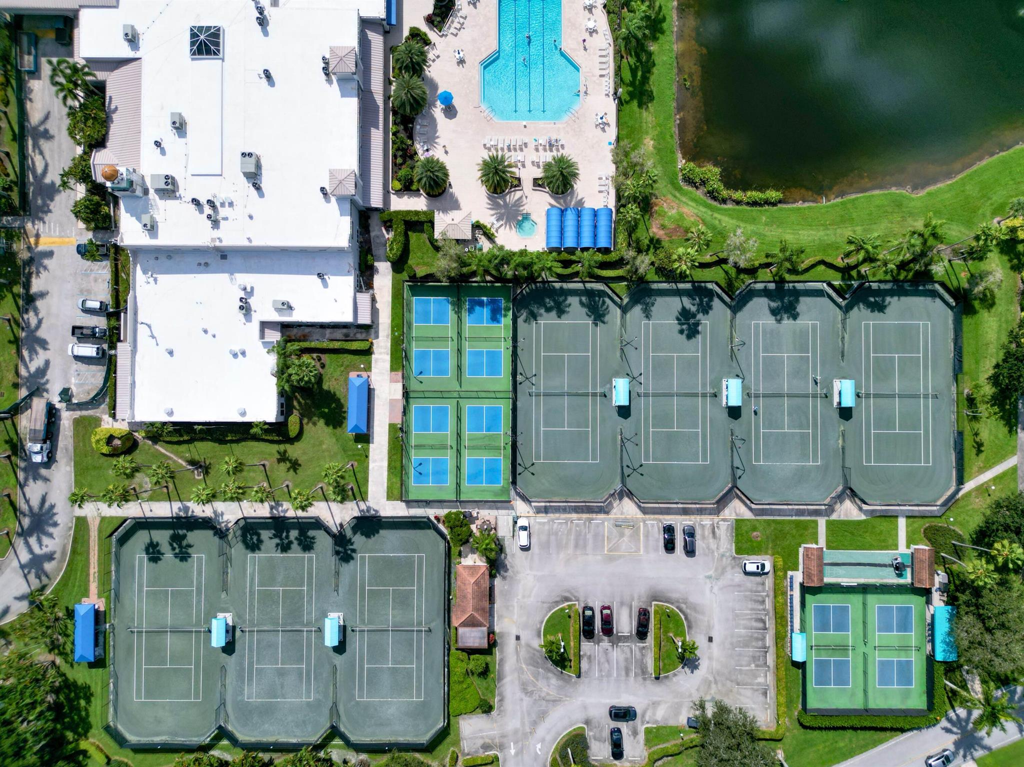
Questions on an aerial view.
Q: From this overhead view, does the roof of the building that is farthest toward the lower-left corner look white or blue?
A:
blue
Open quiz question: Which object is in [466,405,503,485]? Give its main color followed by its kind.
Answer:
blue sports court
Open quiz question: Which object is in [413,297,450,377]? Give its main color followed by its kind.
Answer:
blue sports court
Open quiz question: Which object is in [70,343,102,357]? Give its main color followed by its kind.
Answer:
white vehicle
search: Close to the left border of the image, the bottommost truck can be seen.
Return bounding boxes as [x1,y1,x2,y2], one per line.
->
[24,393,55,461]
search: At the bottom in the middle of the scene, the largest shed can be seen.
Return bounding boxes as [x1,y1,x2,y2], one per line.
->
[452,564,493,650]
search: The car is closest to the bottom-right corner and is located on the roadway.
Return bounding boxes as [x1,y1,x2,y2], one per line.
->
[923,745,955,767]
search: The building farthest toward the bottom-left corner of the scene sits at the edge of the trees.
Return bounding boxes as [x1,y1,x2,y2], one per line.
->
[73,601,105,662]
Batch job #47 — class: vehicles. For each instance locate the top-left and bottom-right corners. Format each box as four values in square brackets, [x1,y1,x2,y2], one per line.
[682,524,697,555]
[923,745,955,767]
[607,705,637,722]
[600,605,614,635]
[516,518,530,548]
[582,607,596,637]
[636,608,650,639]
[662,523,676,552]
[70,343,102,357]
[78,297,110,312]
[610,726,625,758]
[740,560,770,575]
[24,393,55,461]
[892,556,908,573]
[70,324,109,339]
